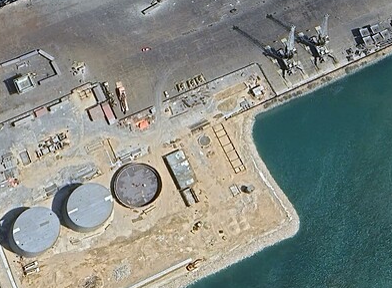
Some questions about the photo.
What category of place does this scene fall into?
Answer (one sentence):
This looks like an industrial area.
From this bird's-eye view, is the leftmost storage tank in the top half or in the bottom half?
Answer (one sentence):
Seen from above, the leftmost storage tank lies in the bottom half of the view.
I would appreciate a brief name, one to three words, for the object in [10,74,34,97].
building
